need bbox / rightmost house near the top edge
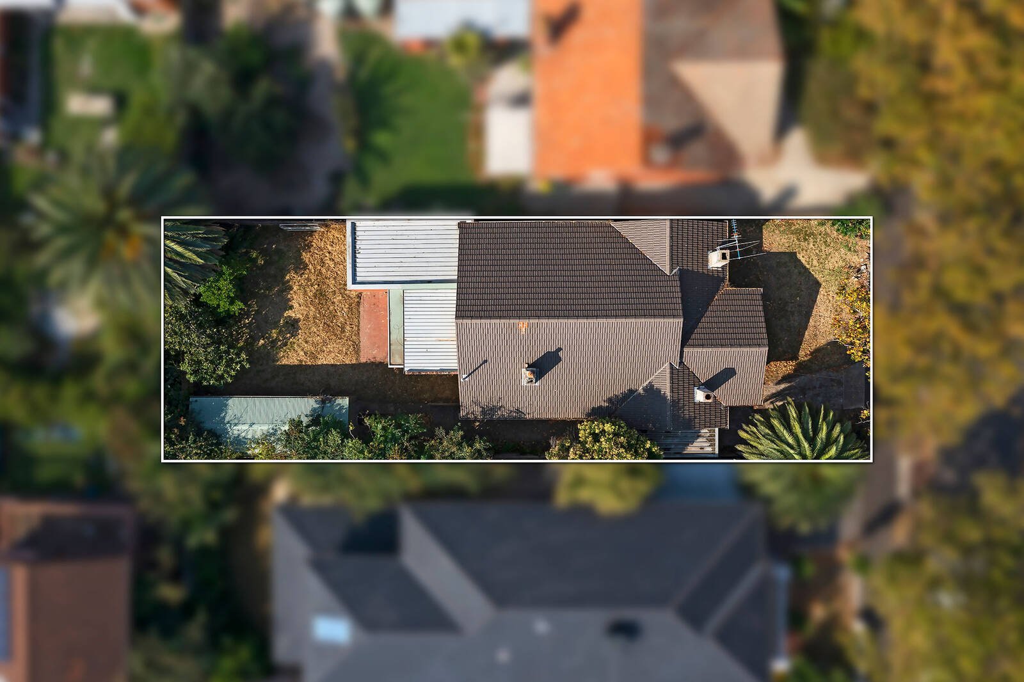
[531,0,788,182]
